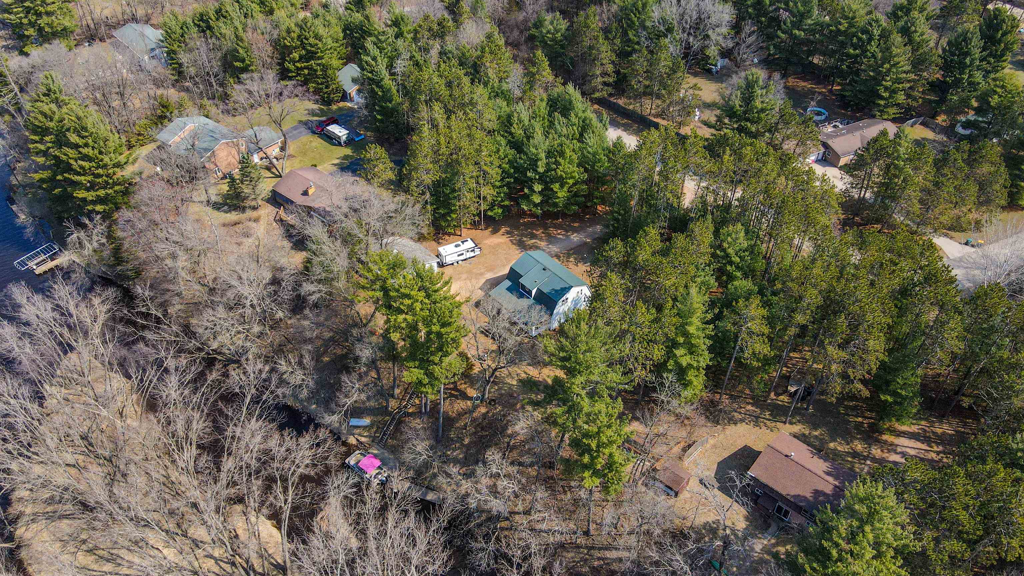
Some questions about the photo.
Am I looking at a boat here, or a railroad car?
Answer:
boat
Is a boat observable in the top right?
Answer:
No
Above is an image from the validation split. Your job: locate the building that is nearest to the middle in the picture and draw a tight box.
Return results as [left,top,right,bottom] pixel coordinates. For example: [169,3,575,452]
[489,250,591,336]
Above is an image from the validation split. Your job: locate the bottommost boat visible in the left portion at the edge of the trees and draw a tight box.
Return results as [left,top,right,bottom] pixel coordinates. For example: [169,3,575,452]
[347,451,388,487]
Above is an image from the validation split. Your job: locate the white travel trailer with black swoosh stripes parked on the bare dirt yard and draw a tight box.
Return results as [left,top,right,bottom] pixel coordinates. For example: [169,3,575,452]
[439,239,482,266]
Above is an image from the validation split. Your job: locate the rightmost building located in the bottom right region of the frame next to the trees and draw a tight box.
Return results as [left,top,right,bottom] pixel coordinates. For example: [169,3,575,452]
[742,430,870,545]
